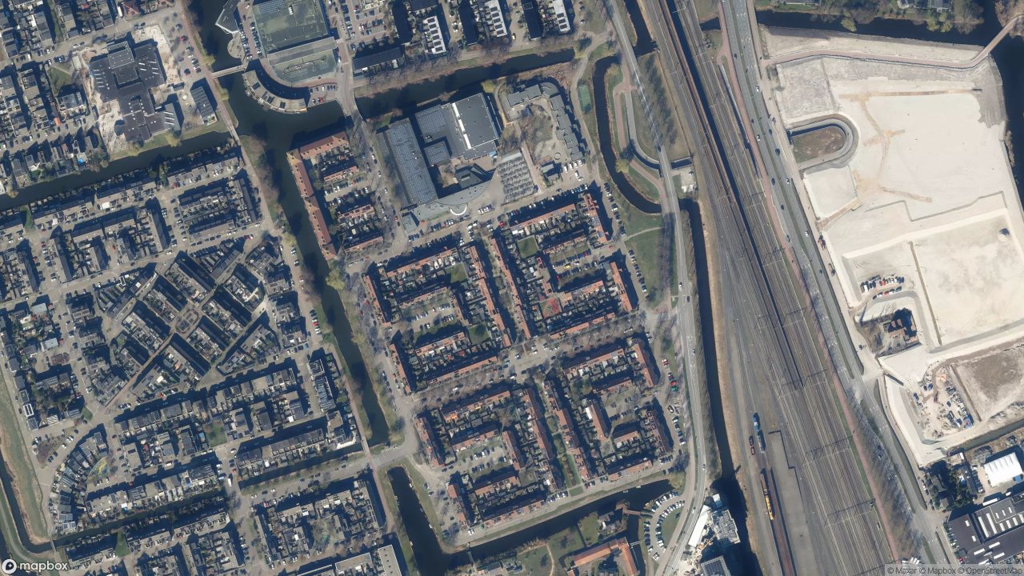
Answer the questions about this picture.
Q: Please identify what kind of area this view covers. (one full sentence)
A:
It's a residential area.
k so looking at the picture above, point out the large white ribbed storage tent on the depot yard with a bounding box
[984,453,1020,485]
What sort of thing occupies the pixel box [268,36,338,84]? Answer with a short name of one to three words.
building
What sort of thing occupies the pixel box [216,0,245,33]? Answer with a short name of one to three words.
building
